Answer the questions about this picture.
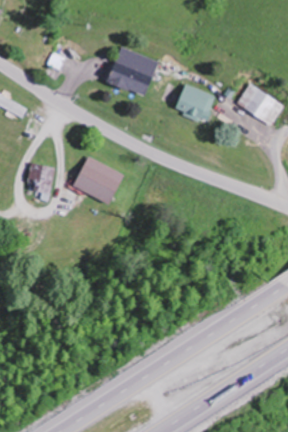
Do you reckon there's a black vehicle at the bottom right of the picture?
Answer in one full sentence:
No, looking at the bottom right of the picture, there is no black vehicle.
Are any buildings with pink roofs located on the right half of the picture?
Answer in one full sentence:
No, looking on the right half of the picture, there is no building with a pink roof.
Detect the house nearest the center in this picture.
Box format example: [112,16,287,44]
[70,156,124,204]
